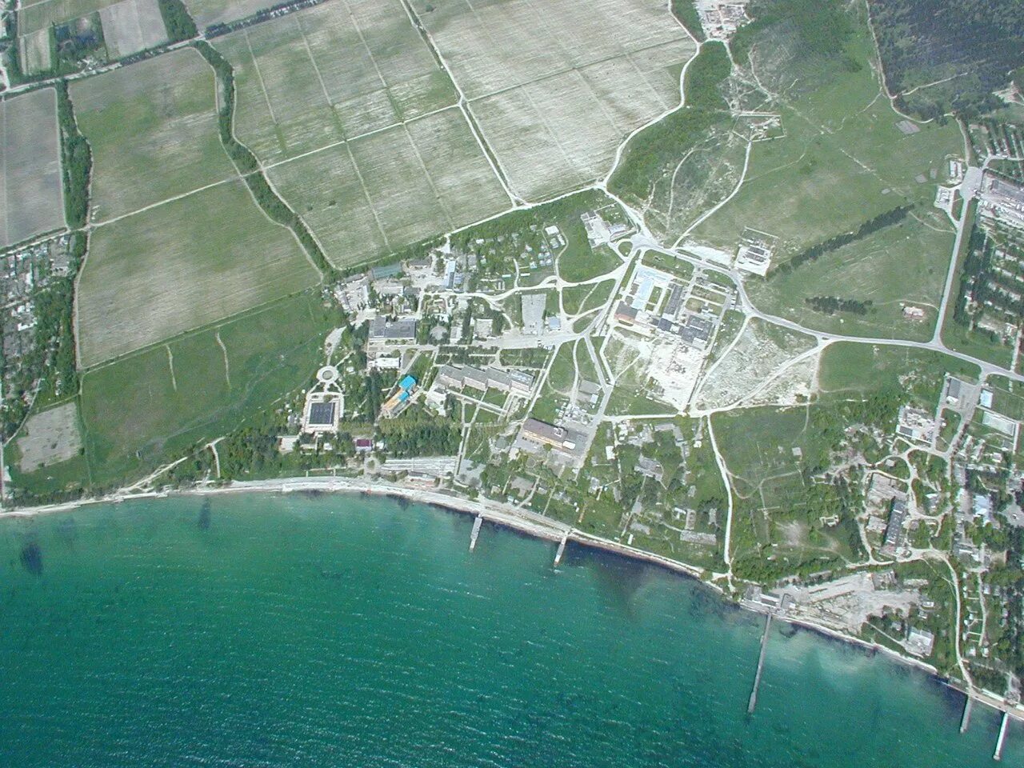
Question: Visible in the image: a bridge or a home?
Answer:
home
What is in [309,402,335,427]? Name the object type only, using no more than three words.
building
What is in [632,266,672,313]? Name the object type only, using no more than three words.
building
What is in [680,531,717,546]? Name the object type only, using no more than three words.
barn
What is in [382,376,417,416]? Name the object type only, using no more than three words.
house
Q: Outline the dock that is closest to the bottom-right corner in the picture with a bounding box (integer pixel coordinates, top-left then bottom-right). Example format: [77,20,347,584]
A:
[992,712,1009,761]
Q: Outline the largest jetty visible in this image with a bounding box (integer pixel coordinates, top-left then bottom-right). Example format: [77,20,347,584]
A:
[747,612,772,713]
